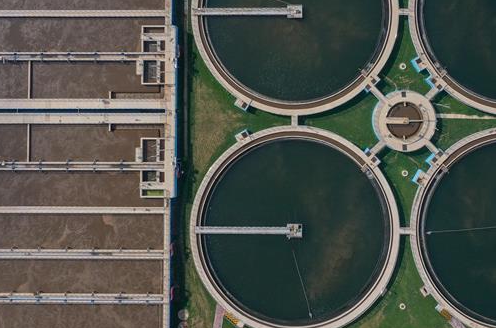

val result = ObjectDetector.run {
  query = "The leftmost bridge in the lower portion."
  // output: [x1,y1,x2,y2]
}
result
[190,222,302,238]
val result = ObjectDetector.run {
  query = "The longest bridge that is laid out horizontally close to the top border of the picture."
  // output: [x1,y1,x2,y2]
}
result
[192,4,303,18]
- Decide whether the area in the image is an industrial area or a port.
industrial area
